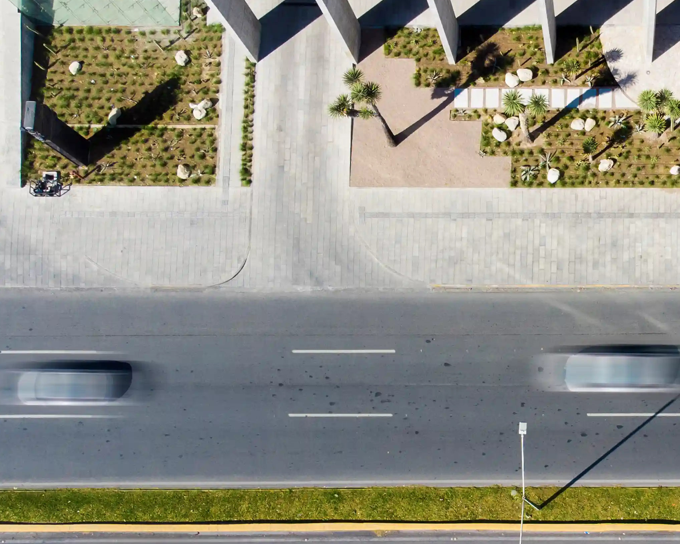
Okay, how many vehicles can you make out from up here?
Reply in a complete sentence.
Altogether the scene contains 2 vehicles.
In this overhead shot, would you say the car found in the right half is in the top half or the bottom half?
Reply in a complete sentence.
The bottom half of the photo is where the car found in the right half is.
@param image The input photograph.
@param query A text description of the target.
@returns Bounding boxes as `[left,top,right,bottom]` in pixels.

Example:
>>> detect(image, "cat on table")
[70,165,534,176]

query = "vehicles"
[564,351,660,396]
[18,366,116,411]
